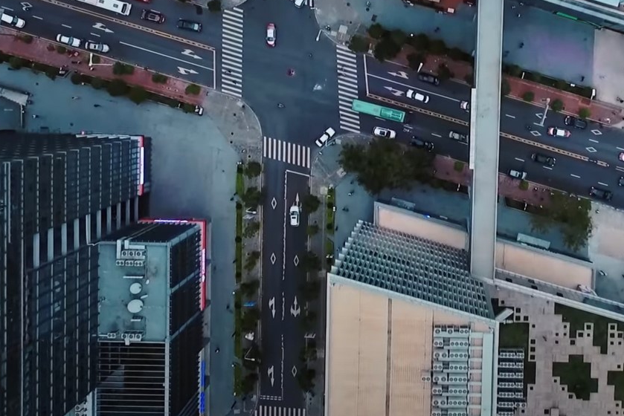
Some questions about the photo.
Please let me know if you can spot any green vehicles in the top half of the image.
Yes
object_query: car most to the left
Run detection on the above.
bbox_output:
[1,13,27,28]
